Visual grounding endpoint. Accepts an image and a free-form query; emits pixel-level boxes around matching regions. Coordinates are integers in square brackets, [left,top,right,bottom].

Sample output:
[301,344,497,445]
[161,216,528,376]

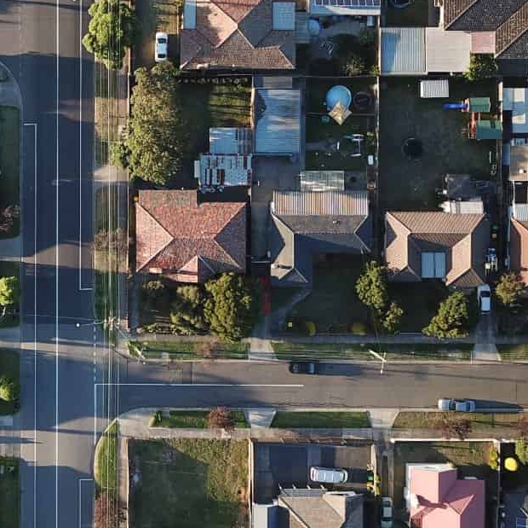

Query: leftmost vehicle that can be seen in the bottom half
[286,359,317,375]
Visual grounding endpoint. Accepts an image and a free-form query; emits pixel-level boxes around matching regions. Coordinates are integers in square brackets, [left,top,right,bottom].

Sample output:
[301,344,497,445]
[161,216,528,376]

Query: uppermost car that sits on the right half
[475,289,492,315]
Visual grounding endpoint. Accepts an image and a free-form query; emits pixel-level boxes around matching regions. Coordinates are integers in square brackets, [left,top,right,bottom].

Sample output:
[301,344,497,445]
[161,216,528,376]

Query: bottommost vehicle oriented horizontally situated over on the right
[309,466,348,484]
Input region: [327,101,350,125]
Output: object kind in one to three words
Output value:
umbrella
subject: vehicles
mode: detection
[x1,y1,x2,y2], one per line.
[153,31,171,63]
[437,395,474,413]
[309,466,348,484]
[475,289,492,315]
[286,359,317,375]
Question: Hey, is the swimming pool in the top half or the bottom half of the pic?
top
